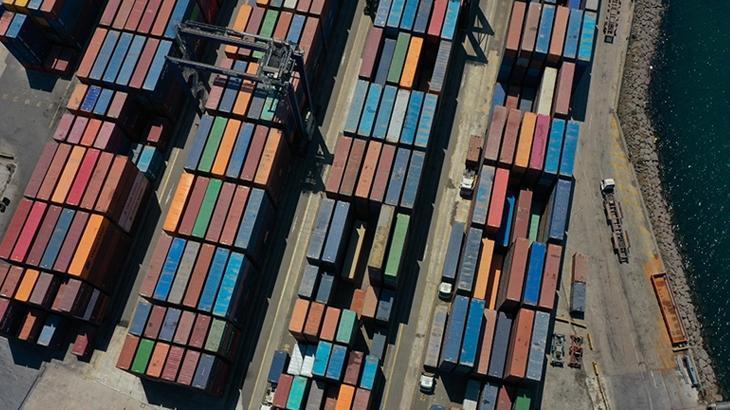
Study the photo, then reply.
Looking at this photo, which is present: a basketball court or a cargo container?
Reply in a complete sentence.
Of the two, only a cargo container appears.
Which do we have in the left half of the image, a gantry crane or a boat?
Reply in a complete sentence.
You can see a gantry crane in the left half of the image.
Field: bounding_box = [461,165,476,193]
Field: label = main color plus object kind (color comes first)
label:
white vehicle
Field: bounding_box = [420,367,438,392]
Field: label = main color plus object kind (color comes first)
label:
white vehicle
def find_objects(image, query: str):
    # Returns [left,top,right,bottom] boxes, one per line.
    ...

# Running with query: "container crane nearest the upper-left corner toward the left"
[165,21,322,130]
